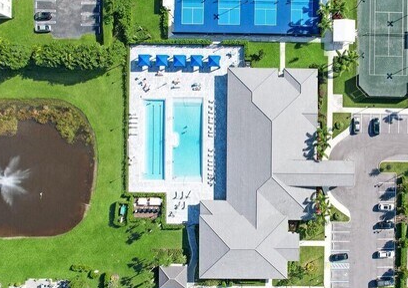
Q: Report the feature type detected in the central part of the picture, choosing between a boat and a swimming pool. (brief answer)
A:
swimming pool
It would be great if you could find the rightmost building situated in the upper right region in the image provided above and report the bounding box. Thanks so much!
[332,18,355,43]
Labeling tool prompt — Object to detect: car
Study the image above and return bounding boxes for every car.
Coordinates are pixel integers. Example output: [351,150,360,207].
[331,252,347,261]
[371,118,379,134]
[34,24,52,32]
[36,12,53,20]
[376,204,393,211]
[377,251,393,259]
[376,221,392,230]
[353,116,360,133]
